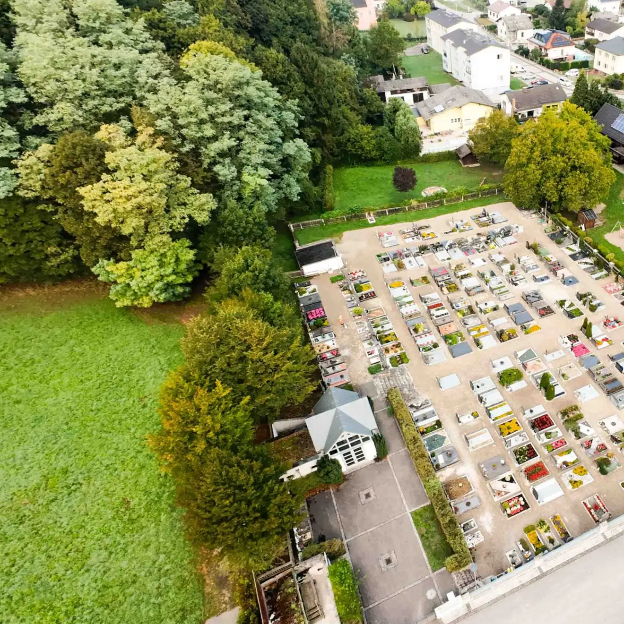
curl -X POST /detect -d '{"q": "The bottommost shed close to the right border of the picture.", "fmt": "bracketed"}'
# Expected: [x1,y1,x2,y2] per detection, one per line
[576,207,600,229]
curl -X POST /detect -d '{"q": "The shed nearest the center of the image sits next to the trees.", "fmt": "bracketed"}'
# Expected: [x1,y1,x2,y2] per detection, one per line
[294,239,344,280]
